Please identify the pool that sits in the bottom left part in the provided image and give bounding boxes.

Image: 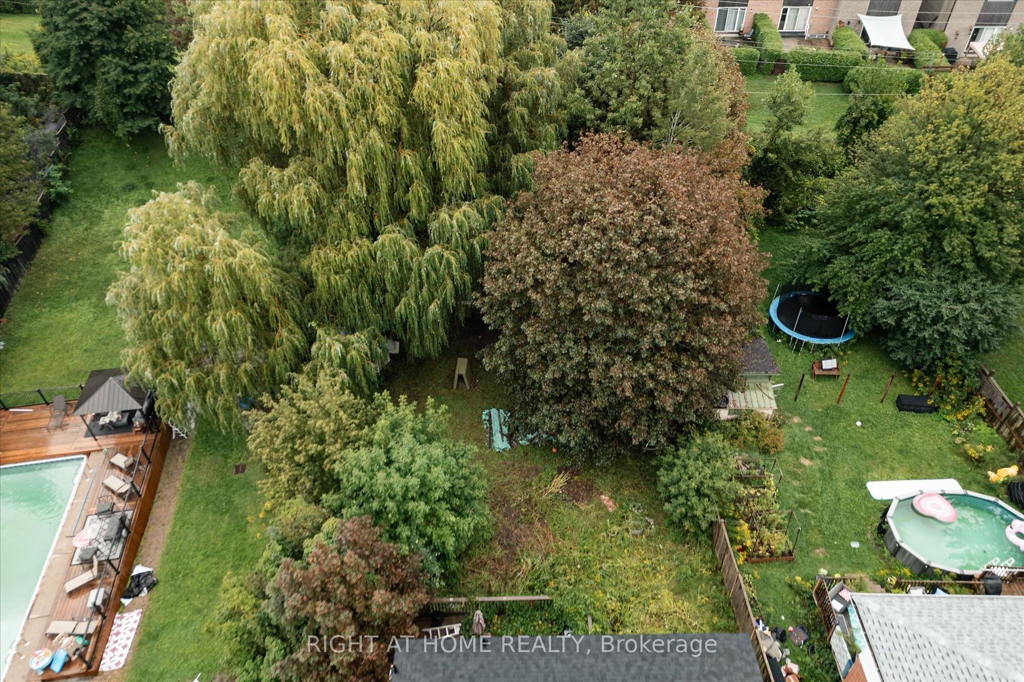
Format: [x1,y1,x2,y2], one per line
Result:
[0,453,89,682]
